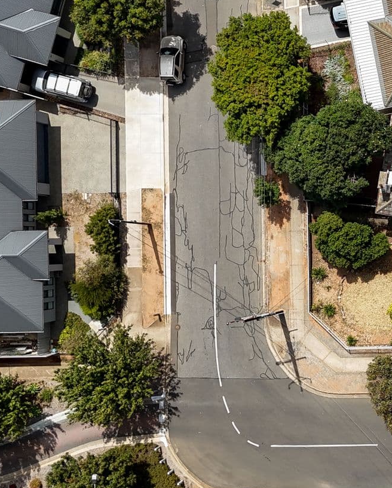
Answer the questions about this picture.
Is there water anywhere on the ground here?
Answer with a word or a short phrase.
No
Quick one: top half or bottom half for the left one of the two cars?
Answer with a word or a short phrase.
top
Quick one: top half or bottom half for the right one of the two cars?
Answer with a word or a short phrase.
top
